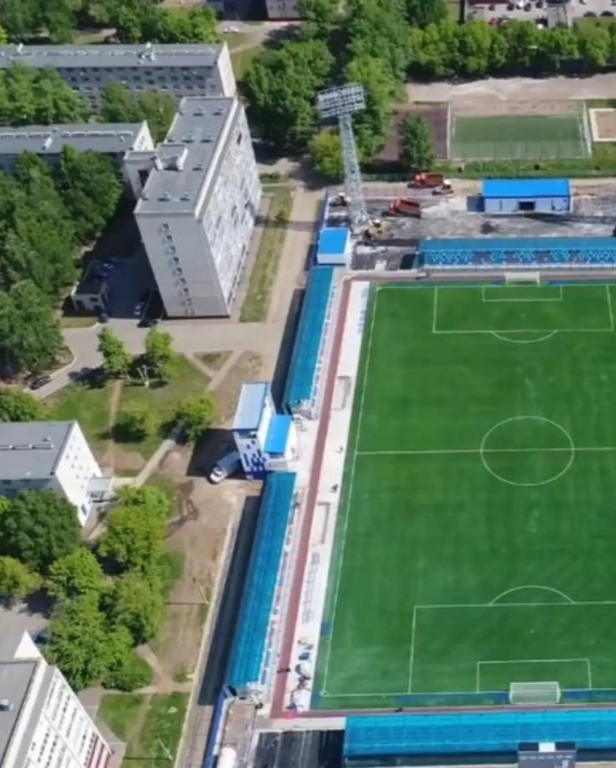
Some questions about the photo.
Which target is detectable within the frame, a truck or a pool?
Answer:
truck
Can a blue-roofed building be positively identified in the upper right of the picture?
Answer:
Yes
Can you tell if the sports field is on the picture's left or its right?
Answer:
right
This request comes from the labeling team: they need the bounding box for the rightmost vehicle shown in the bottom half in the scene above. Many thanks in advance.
[205,444,244,486]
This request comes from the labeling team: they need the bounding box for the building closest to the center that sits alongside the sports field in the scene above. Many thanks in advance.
[233,383,309,475]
